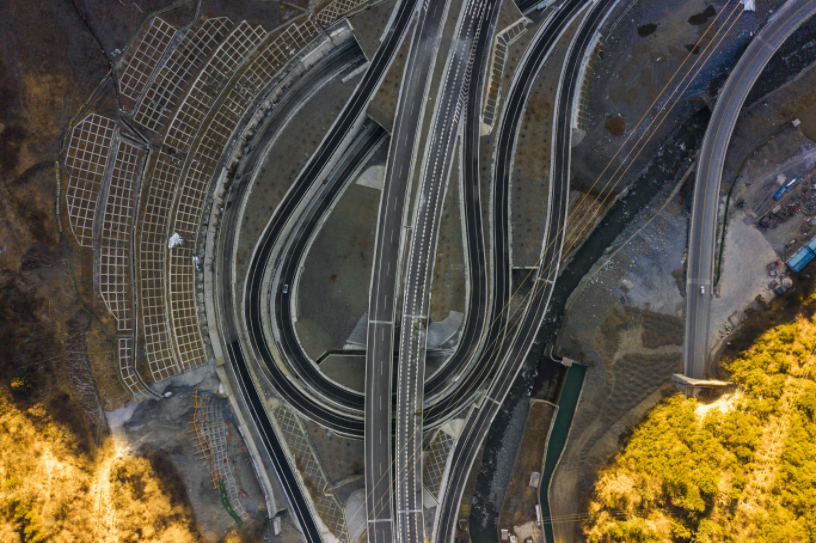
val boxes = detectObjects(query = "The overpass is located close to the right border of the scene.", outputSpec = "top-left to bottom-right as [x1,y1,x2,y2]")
[682,0,816,383]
